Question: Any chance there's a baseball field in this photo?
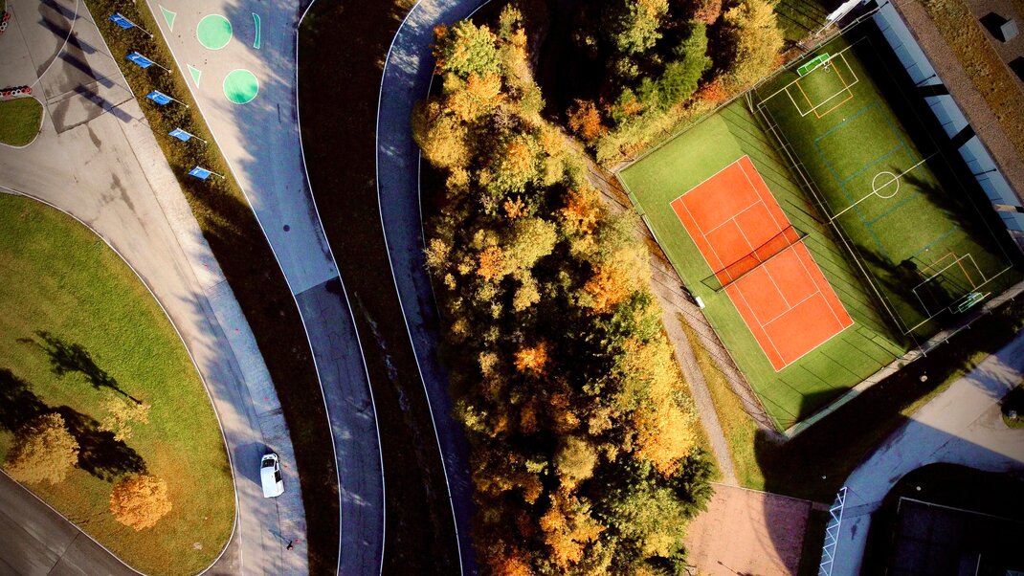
No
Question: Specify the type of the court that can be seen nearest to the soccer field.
tennis court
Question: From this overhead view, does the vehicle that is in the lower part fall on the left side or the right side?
left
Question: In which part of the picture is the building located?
top right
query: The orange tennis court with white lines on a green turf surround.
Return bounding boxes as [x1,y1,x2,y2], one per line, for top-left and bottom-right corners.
[619,98,910,433]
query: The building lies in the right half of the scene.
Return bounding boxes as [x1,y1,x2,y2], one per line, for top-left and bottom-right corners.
[866,0,1024,259]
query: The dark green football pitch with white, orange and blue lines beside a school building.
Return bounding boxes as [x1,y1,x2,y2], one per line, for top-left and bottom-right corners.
[752,20,1024,341]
